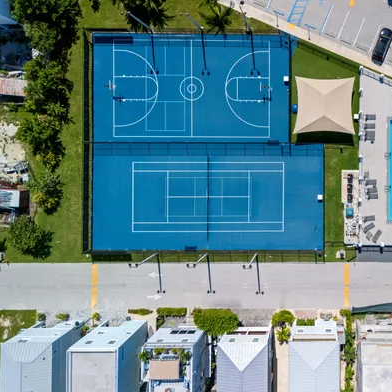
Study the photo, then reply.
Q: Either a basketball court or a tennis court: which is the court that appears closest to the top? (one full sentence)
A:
What you see as the court that appears closest to the top is a basketball court.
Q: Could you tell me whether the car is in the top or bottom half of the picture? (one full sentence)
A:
It is in the top half that the car appears.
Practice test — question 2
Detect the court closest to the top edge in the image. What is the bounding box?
[93,29,299,143]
